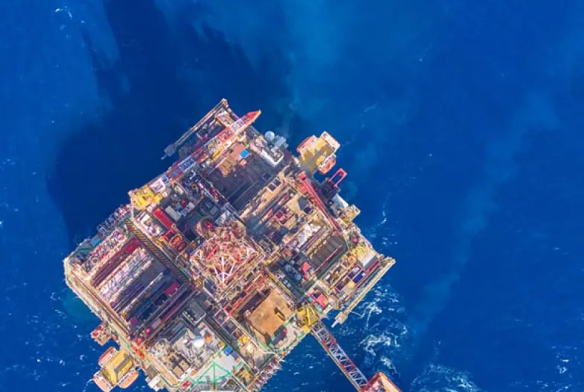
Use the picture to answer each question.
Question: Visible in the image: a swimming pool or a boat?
boat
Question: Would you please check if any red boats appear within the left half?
Yes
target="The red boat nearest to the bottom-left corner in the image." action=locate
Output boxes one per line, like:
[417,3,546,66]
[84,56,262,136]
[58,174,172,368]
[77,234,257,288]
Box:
[97,346,114,362]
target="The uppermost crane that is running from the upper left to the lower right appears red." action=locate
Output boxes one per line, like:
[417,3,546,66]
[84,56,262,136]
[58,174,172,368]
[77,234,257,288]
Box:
[294,170,343,236]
